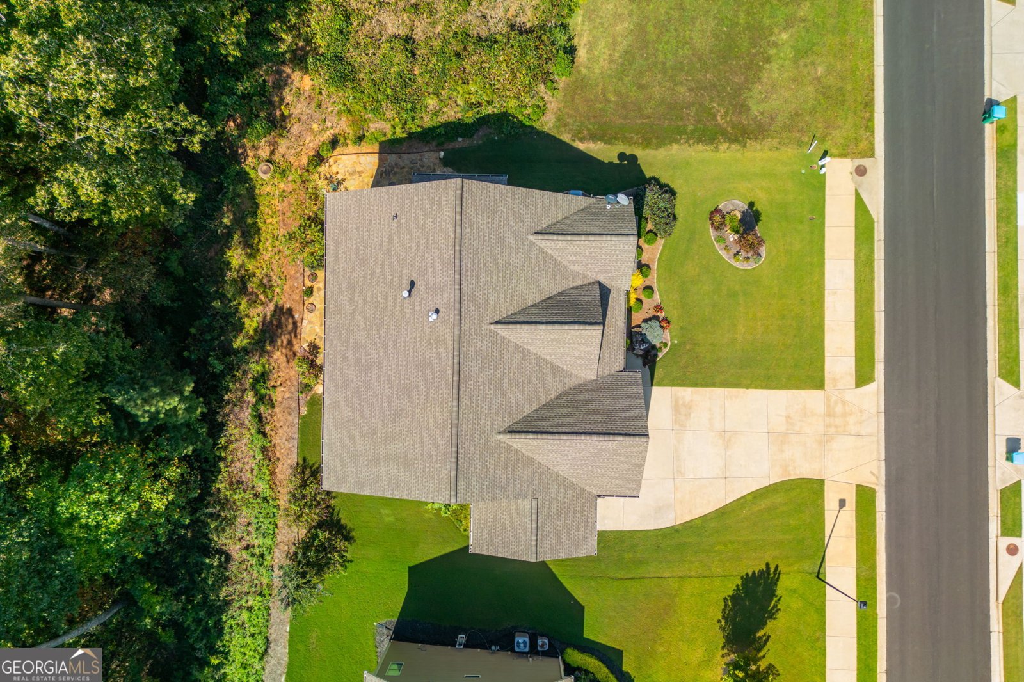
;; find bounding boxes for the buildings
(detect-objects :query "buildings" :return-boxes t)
[363,640,570,682]
[318,167,649,562]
